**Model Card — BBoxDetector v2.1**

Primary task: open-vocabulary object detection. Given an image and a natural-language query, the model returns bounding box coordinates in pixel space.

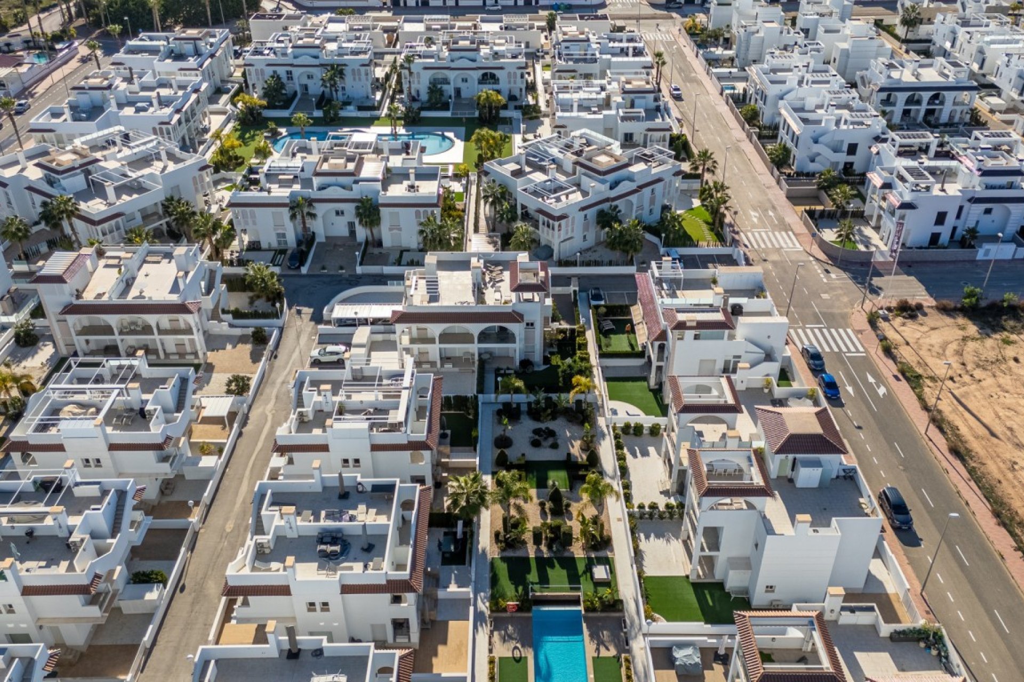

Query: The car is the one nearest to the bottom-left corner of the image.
[309,344,349,365]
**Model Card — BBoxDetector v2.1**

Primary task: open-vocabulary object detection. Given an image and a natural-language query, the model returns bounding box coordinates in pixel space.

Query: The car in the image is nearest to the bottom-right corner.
[880,480,918,527]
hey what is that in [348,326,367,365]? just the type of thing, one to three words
shed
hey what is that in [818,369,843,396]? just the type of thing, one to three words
car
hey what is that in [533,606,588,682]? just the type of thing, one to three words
swimming pool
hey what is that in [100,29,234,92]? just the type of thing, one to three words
building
